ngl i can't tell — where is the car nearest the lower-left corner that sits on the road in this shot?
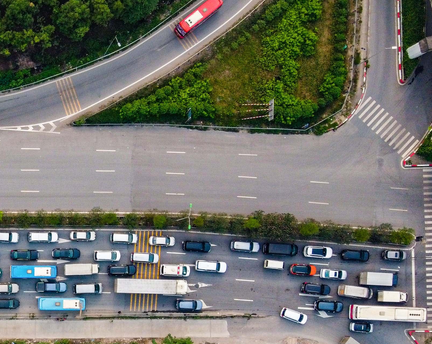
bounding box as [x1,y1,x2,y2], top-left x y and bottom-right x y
[0,298,19,310]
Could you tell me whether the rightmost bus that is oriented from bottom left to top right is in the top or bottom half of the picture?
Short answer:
top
